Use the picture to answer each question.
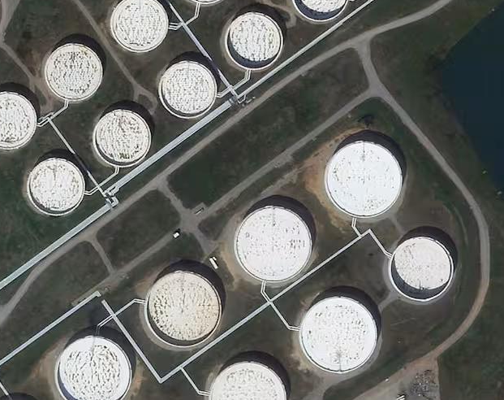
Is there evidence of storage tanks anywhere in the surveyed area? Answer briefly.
Yes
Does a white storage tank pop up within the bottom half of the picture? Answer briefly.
Yes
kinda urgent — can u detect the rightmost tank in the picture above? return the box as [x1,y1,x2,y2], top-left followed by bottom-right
[389,236,454,301]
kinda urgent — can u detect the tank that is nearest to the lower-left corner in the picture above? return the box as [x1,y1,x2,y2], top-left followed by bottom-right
[56,334,132,400]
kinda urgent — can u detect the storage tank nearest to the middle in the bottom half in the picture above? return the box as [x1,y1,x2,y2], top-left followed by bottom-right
[234,204,312,282]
